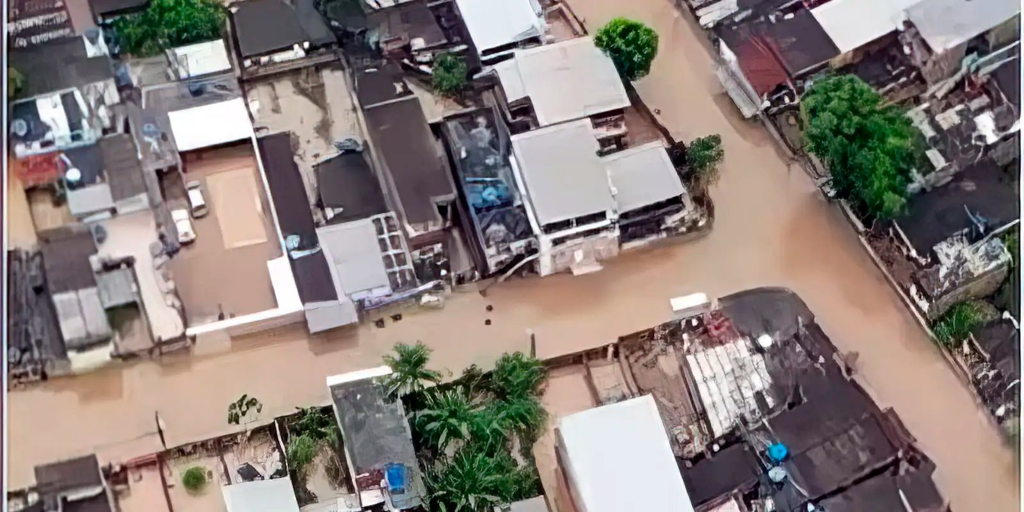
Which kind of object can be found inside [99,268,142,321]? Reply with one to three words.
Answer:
shed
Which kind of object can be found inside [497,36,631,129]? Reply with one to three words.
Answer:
house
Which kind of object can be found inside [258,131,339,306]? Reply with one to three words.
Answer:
house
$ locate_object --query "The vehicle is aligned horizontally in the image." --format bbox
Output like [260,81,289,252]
[670,293,710,314]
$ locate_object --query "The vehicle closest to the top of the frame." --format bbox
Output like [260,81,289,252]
[186,183,211,220]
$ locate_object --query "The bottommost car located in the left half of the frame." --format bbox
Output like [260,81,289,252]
[170,211,198,250]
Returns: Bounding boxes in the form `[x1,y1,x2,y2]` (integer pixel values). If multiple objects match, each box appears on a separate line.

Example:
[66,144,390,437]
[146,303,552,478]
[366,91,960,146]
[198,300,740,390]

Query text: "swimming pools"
[205,165,268,250]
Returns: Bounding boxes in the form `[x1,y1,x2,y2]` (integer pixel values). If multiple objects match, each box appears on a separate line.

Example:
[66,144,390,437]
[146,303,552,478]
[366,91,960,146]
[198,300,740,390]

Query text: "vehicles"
[670,293,710,314]
[170,211,198,250]
[186,183,211,220]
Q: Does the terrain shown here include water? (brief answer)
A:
Yes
